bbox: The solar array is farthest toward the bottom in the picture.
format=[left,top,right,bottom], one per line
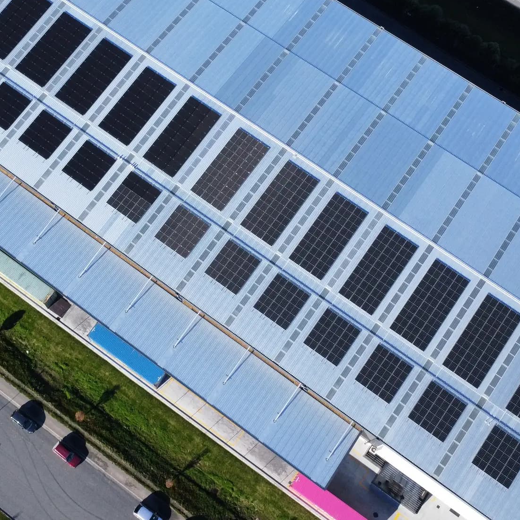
[473,425,520,490]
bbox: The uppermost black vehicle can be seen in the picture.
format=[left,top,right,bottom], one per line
[13,407,44,435]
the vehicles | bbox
[13,407,44,435]
[52,441,82,469]
[133,502,163,520]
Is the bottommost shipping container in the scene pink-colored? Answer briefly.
Yes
